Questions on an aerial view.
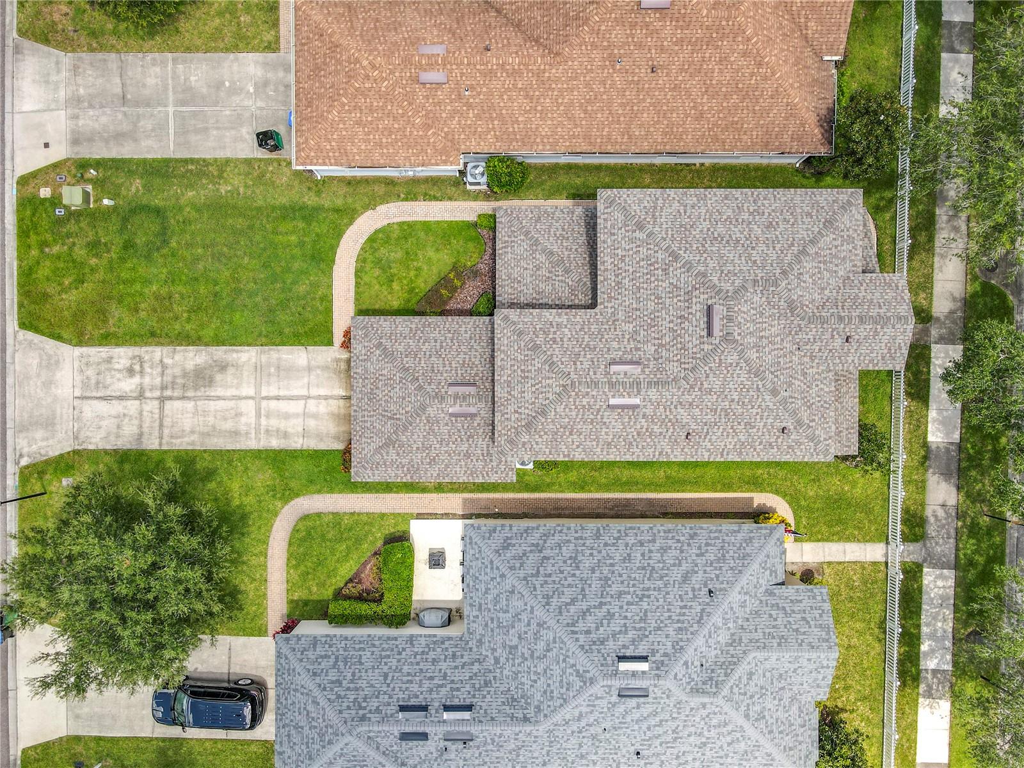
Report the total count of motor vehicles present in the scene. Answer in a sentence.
The photo contains exactly 1 motor vehicle.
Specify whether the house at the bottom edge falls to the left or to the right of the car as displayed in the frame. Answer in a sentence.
The house at the bottom edge can be seen on the right of the car.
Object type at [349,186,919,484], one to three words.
house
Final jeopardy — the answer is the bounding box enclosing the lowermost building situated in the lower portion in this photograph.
[272,520,844,768]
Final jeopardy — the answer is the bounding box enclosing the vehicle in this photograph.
[154,674,269,733]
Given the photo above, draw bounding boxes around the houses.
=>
[290,0,851,185]
[349,186,919,484]
[272,520,844,768]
